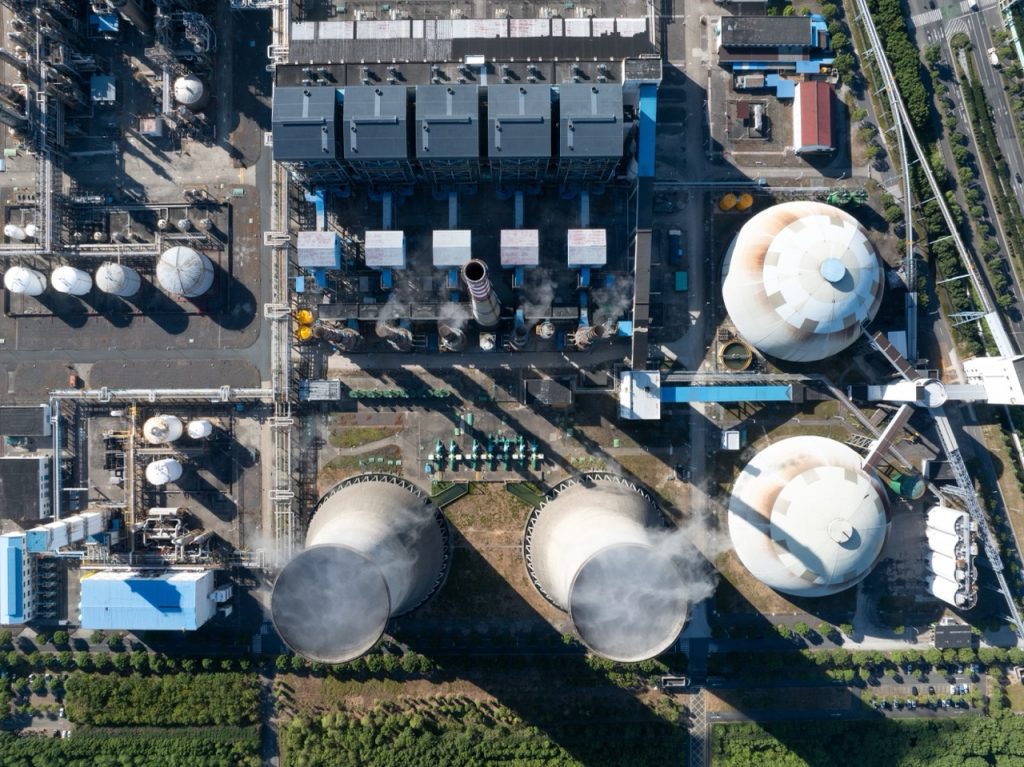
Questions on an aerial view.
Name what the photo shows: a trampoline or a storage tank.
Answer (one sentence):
Looking from above, you can make out a storage tank.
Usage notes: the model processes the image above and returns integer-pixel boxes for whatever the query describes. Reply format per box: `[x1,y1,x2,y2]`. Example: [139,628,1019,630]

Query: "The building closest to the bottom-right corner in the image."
[930,624,972,648]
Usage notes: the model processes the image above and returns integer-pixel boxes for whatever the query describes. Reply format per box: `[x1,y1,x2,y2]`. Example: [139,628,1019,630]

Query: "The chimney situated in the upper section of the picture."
[457,260,501,328]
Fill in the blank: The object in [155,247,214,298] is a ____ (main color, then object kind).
white storage tank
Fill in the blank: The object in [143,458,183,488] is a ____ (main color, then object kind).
white storage tank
